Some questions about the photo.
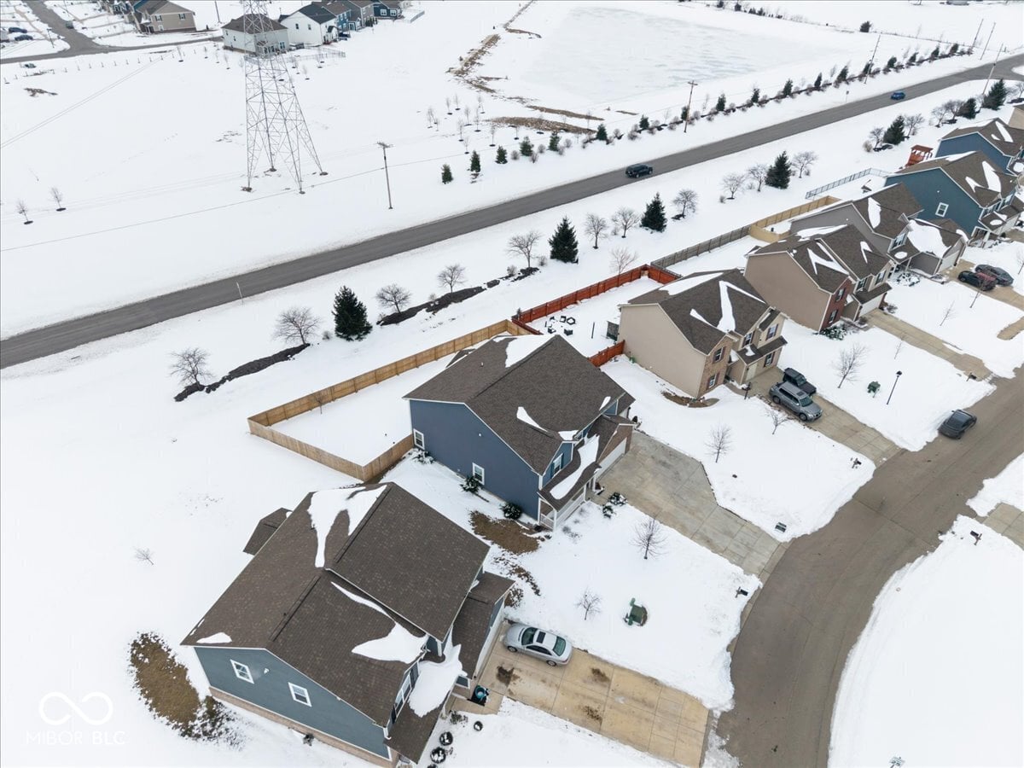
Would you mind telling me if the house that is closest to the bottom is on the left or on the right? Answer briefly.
left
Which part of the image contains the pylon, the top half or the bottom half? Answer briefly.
top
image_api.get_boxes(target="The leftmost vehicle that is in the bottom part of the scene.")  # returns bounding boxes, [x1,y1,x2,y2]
[501,622,573,667]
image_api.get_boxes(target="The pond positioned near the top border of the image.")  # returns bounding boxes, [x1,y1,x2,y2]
[507,6,855,105]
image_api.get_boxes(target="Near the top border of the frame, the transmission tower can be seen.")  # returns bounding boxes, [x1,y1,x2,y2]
[238,0,324,193]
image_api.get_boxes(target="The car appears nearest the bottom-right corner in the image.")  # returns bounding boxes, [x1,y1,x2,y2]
[937,410,975,439]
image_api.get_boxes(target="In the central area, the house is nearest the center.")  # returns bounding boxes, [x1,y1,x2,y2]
[400,333,642,534]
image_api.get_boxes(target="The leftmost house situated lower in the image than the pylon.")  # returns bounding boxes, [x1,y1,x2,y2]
[176,482,518,768]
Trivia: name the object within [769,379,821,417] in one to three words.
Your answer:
car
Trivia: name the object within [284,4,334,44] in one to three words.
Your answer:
house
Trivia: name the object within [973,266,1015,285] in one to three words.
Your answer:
car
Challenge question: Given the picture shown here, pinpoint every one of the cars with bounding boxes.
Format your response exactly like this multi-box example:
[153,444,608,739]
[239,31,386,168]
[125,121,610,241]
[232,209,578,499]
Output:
[776,362,822,398]
[334,31,349,39]
[973,266,1015,285]
[65,21,74,28]
[14,34,34,41]
[955,271,999,291]
[12,26,27,33]
[501,622,573,667]
[937,410,975,439]
[626,162,652,179]
[769,379,821,417]
[890,92,906,101]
